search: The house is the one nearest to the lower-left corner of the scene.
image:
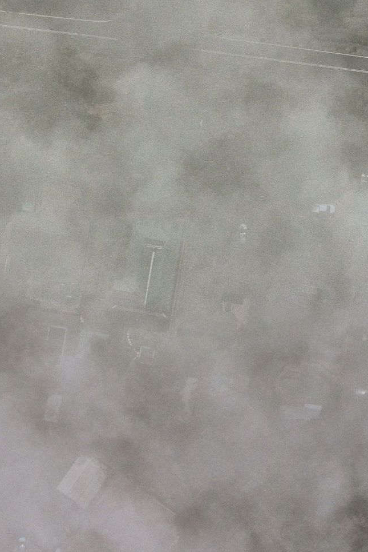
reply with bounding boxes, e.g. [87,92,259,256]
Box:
[56,454,106,510]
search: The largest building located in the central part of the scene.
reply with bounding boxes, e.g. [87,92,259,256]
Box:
[110,226,182,311]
